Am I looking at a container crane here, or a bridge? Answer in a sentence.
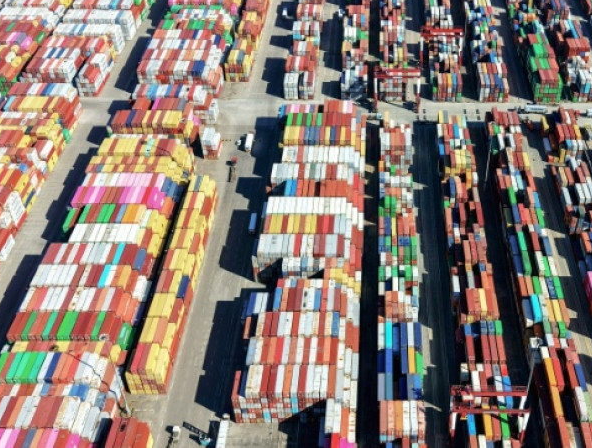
Of the two, only a container crane appears.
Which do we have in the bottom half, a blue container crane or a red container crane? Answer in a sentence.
It is a red container crane that can be seen in the bottom half.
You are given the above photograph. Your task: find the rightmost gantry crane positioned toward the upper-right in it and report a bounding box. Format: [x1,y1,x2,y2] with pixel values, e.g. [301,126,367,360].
[418,26,467,66]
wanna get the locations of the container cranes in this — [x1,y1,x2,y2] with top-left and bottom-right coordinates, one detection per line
[418,26,467,66]
[371,69,422,112]
[444,389,534,448]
